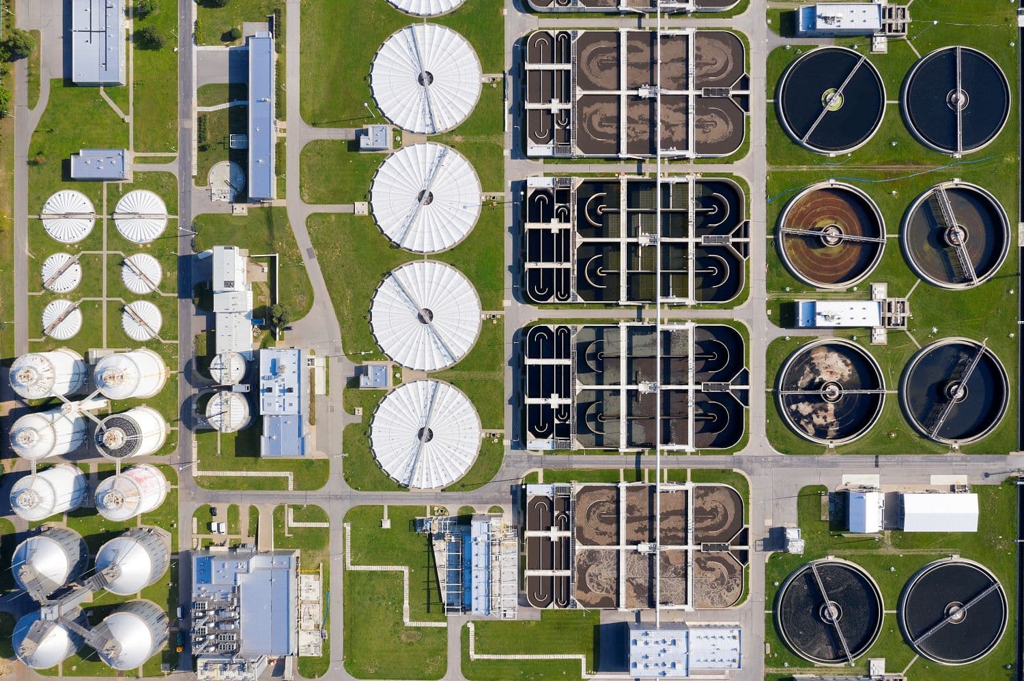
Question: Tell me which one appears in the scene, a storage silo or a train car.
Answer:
storage silo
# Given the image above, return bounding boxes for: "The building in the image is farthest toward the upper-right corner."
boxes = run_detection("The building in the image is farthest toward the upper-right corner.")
[795,2,882,37]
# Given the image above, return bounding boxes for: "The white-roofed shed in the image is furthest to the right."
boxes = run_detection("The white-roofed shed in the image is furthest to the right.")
[896,493,980,532]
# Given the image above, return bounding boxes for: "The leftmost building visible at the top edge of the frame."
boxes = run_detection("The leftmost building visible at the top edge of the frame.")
[72,0,126,87]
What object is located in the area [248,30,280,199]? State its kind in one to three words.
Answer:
building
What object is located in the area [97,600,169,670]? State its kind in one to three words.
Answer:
silo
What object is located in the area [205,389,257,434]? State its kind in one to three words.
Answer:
storage tank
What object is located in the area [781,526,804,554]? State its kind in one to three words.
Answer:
shed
